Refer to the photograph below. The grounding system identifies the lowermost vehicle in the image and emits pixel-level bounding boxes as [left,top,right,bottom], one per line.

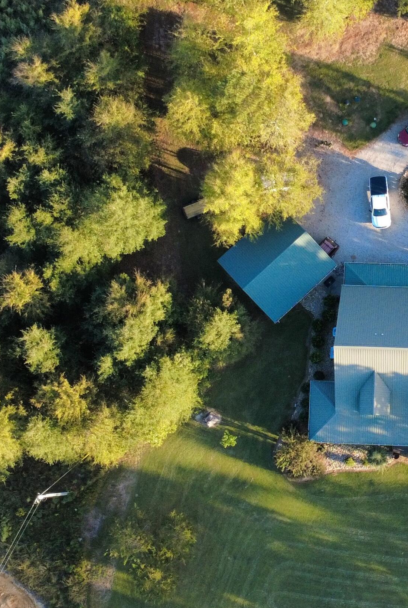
[320,239,338,258]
